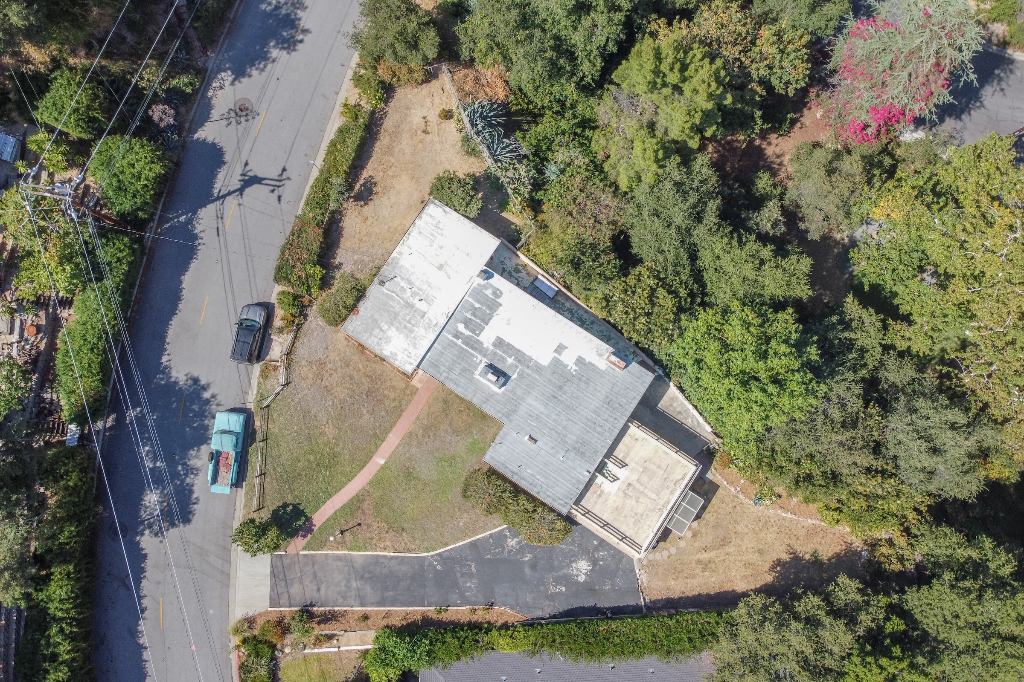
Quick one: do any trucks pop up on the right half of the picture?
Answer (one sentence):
No, I can find no truck on the right half of the picture.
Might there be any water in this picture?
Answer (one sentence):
No, the scene doesn't show any water.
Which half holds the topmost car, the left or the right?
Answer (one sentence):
The topmost car sits on the left side.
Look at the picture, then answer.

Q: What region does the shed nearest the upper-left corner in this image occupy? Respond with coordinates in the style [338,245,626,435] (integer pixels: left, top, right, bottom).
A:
[0,128,30,163]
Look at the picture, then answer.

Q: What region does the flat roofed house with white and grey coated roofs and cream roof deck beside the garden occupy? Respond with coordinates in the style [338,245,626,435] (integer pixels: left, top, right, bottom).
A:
[341,197,704,565]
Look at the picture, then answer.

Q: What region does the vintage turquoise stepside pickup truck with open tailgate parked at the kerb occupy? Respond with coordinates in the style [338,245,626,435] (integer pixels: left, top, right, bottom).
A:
[208,408,250,493]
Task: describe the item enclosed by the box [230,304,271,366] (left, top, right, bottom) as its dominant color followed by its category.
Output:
gray car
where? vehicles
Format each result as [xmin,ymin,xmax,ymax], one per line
[230,304,271,366]
[208,408,250,493]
